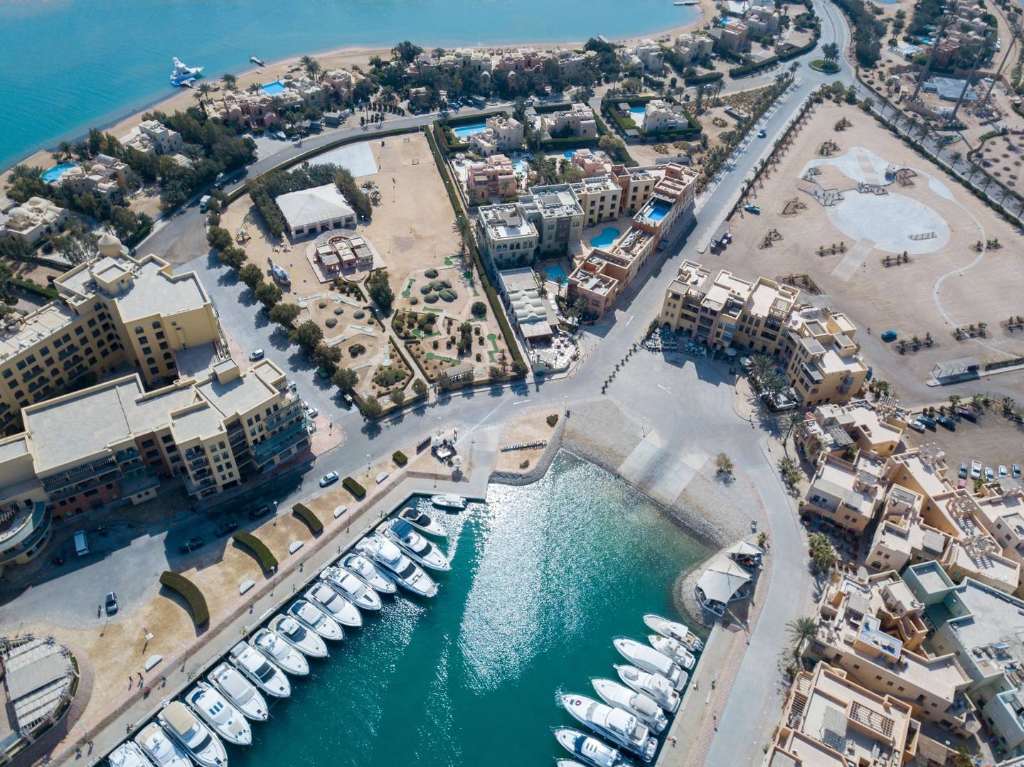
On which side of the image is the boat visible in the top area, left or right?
left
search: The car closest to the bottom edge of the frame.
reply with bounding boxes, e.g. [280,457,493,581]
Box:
[103,589,118,615]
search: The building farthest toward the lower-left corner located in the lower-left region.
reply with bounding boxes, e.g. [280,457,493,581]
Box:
[2,638,80,745]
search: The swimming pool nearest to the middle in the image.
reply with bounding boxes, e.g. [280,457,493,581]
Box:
[545,263,569,287]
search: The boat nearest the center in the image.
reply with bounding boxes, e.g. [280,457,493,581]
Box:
[431,491,472,511]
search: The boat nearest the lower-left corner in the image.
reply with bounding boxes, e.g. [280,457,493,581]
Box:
[103,739,158,767]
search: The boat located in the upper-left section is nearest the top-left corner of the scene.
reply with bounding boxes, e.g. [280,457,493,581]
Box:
[167,65,204,87]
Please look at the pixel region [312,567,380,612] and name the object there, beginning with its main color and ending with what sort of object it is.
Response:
white boat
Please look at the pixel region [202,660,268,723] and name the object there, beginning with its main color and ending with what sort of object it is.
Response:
white boat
